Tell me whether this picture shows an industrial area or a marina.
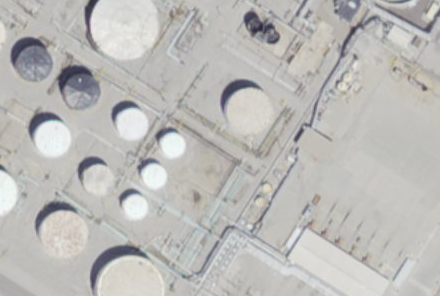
industrial area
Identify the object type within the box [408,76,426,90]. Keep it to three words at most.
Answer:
vehicle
